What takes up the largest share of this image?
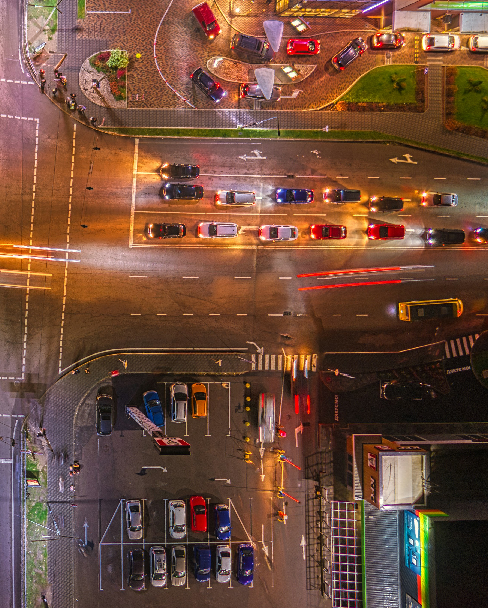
paved ground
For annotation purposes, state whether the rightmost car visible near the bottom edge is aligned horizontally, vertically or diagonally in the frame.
vertically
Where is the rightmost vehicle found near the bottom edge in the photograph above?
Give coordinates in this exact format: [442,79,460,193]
[234,542,255,584]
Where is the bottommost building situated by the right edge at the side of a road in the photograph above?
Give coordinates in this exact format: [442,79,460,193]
[347,433,488,608]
